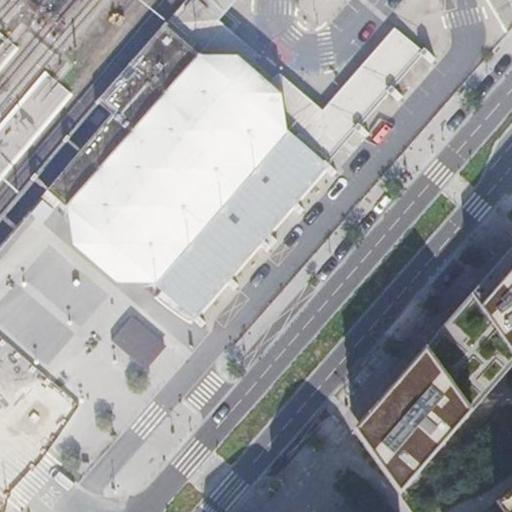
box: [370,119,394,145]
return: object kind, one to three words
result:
vehicle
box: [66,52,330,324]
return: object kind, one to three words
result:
building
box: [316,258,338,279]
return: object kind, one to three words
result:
car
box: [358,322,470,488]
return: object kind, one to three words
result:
building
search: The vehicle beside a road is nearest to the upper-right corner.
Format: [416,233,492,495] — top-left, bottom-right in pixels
[492,54,512,76]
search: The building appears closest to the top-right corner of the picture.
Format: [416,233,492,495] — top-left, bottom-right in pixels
[282,26,422,162]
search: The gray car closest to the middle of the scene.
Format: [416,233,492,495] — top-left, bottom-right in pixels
[252,265,270,285]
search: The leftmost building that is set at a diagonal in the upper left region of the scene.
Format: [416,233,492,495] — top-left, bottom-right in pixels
[48,23,196,203]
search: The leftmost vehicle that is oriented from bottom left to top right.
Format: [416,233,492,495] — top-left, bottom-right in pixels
[212,402,230,422]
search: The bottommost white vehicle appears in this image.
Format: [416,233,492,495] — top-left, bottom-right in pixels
[55,472,75,492]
